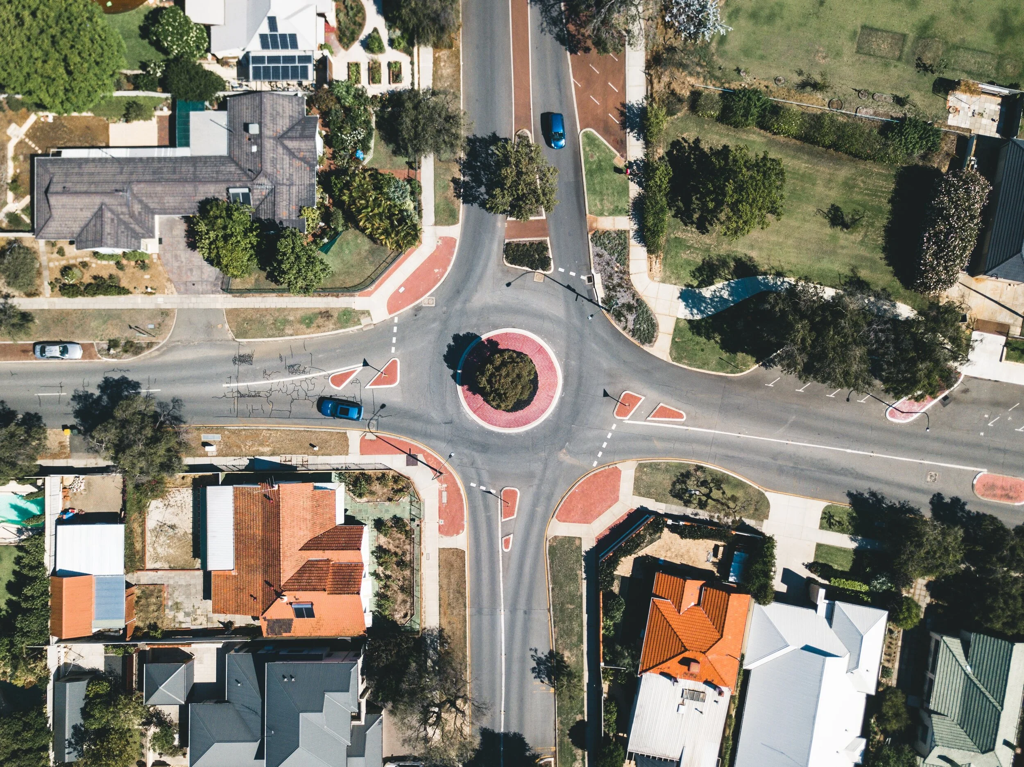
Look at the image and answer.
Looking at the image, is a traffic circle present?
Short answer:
Yes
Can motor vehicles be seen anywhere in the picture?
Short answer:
Yes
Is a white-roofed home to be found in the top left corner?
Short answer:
Yes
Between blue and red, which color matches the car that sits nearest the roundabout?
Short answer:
blue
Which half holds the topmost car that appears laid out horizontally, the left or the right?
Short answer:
left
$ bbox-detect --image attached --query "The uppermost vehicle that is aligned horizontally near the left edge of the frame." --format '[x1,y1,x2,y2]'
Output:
[34,341,84,362]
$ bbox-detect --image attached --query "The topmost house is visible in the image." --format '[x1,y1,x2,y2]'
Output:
[185,0,327,88]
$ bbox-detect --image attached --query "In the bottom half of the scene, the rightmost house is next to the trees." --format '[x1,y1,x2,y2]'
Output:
[912,628,1024,767]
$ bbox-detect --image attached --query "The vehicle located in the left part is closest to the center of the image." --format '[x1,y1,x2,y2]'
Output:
[321,400,364,421]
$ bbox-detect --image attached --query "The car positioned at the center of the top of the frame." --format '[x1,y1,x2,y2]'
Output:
[549,112,567,150]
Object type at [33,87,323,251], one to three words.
house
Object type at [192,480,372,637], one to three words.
house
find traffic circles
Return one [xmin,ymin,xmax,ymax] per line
[457,327,562,433]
